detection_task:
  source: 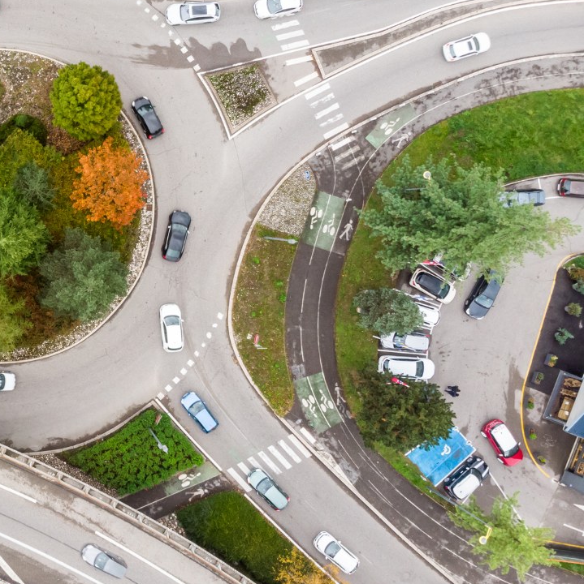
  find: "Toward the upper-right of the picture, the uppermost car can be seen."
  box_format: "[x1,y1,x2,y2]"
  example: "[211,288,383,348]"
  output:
[440,32,491,61]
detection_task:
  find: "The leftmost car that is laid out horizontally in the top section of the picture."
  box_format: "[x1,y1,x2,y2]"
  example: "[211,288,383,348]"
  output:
[164,0,222,26]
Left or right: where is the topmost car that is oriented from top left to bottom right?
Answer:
left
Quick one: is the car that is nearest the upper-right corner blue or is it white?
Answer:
white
